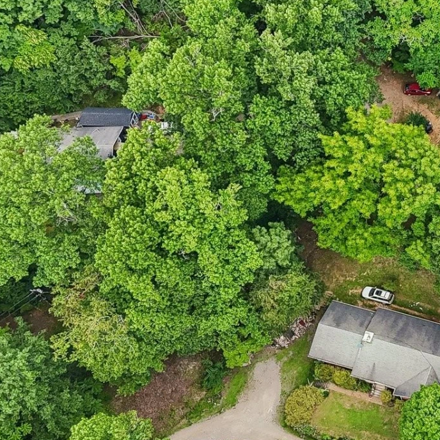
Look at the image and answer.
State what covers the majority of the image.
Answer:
trees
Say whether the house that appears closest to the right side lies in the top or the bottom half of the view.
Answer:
bottom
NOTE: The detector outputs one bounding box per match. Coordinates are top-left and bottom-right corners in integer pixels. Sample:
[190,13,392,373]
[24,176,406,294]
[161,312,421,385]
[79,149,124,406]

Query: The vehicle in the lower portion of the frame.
[361,285,394,306]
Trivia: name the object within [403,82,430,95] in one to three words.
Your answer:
vehicle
